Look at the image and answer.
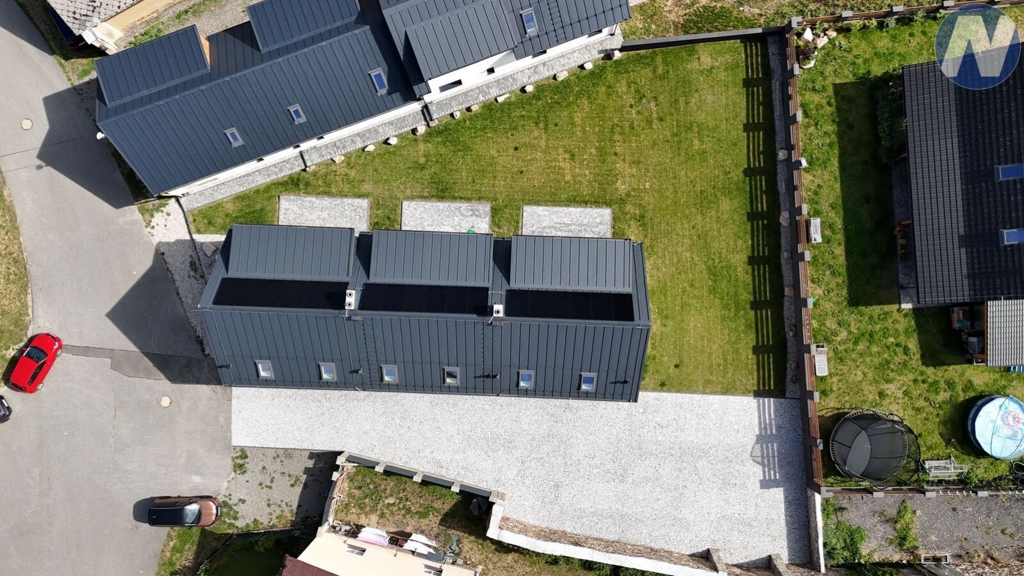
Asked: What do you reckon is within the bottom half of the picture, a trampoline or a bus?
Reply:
trampoline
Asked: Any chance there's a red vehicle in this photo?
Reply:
Yes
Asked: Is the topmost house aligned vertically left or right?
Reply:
right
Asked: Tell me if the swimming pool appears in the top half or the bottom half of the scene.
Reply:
bottom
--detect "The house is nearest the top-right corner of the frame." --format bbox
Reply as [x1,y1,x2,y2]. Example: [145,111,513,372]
[899,43,1024,304]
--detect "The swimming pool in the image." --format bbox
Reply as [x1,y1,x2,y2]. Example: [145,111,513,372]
[959,392,1024,460]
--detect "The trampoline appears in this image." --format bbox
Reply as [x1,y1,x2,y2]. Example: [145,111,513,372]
[825,405,921,493]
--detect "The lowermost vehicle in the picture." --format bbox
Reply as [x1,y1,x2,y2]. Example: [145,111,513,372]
[146,496,219,533]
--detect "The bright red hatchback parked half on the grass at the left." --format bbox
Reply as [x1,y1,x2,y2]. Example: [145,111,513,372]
[9,331,67,397]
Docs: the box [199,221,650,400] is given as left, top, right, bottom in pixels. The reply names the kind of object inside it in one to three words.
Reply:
house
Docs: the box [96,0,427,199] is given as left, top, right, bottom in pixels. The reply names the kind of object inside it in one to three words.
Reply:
house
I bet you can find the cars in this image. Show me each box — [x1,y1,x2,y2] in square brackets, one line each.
[0,398,12,427]
[146,496,219,533]
[9,331,67,397]
[42,0,94,56]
